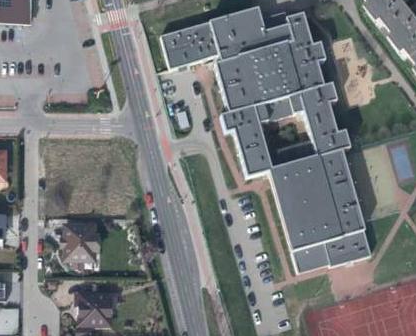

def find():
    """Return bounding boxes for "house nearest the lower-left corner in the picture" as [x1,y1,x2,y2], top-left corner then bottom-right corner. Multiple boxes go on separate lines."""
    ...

[0,307,19,336]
